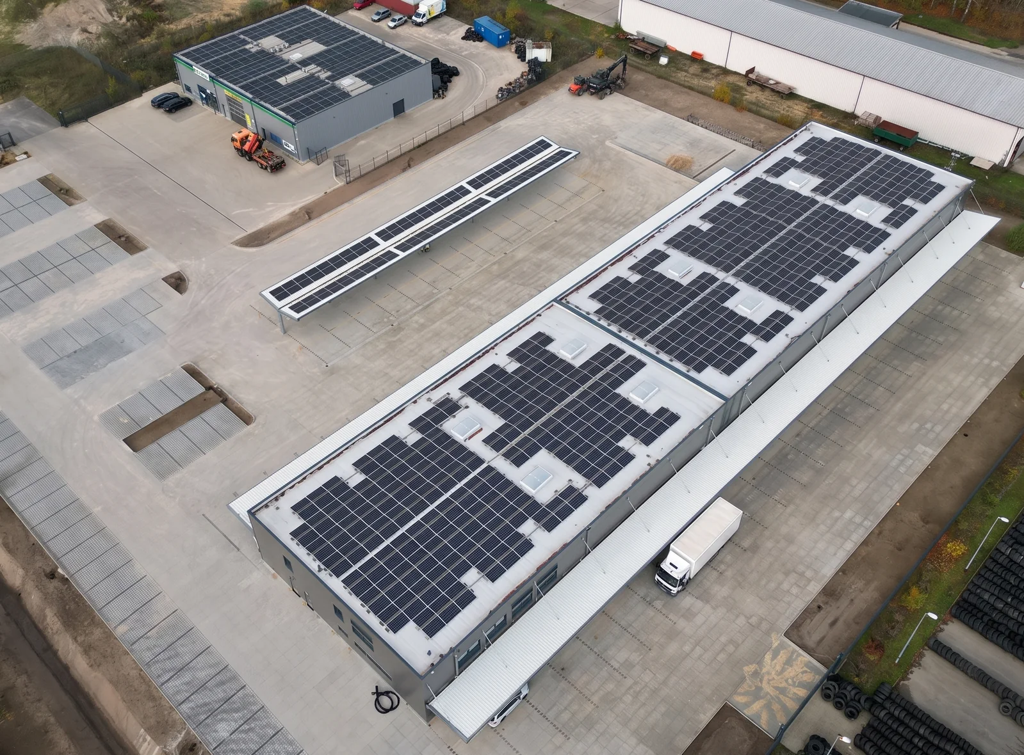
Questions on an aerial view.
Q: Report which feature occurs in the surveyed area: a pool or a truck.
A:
truck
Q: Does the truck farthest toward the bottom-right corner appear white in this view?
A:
Yes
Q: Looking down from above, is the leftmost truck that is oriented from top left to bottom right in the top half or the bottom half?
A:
top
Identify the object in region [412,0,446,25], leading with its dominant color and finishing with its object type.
white vehicle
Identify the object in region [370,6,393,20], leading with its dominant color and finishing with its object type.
gray car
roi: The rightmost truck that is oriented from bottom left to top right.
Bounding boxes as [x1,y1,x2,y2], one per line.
[655,497,743,595]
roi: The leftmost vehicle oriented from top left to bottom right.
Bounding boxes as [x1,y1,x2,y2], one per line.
[229,128,283,171]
